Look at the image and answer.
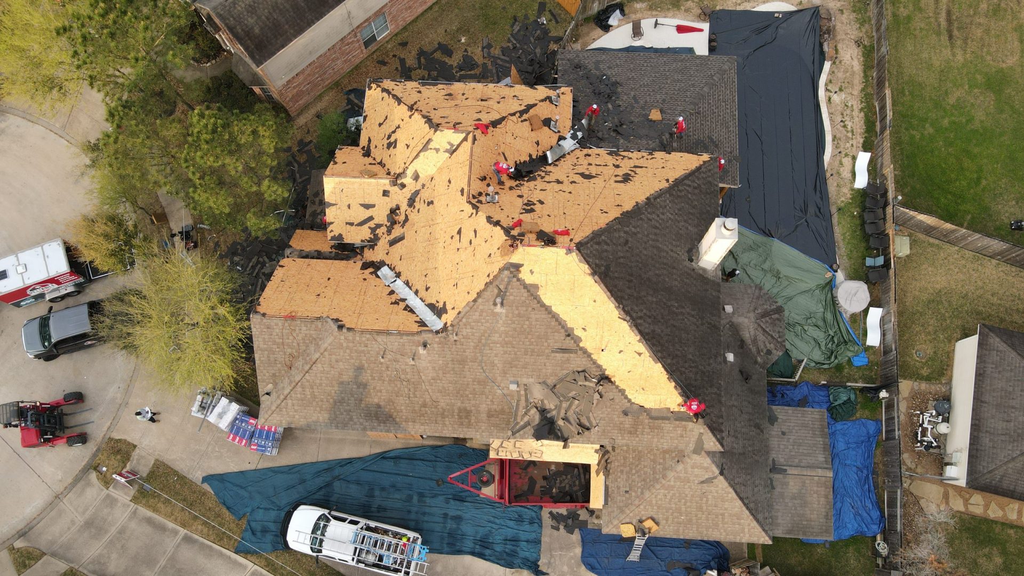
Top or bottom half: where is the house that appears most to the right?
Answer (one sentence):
The house that appears most to the right sits in the bottom half of the picture.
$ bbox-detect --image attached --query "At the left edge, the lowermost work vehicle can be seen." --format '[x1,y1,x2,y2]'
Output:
[0,389,95,448]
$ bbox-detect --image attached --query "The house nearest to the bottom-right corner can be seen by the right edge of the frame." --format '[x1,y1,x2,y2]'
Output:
[943,318,1024,504]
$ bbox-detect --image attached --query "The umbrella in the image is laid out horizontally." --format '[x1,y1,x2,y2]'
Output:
[654,19,704,32]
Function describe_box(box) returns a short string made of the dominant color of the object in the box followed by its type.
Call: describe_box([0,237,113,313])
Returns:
white trailer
